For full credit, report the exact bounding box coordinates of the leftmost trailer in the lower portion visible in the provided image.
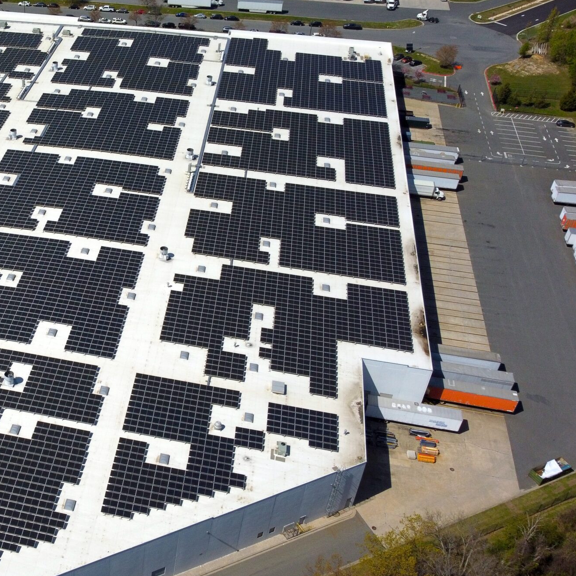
[365,395,463,431]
